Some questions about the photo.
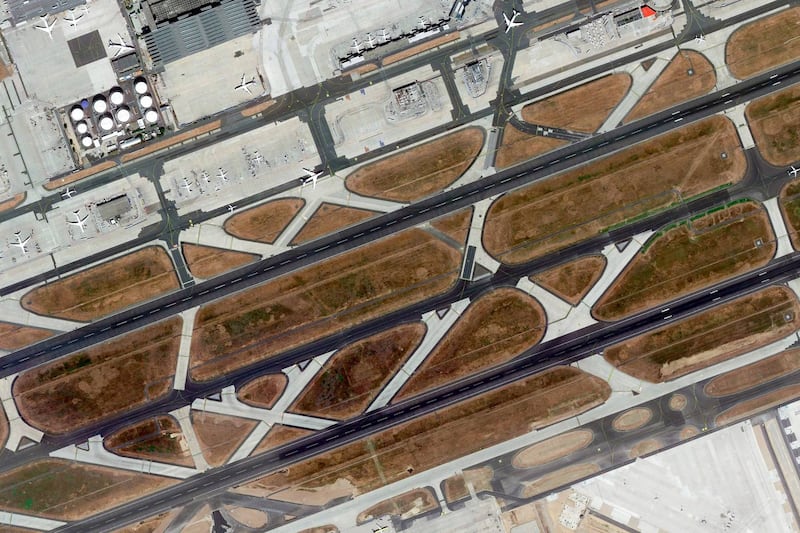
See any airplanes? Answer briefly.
Yes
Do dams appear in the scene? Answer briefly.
No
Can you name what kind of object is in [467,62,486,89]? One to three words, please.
building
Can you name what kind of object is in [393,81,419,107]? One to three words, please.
building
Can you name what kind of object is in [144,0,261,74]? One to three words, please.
hangar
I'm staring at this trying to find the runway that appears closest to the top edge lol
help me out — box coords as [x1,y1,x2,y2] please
[0,59,800,381]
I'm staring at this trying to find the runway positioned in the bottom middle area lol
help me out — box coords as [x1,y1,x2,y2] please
[42,252,800,533]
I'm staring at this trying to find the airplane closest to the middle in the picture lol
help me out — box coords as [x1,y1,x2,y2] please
[301,170,323,190]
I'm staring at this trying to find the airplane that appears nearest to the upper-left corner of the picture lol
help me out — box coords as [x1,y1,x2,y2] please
[34,15,57,38]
